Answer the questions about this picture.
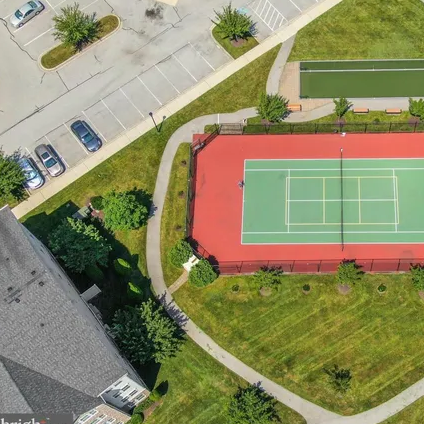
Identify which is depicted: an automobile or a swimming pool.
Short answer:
automobile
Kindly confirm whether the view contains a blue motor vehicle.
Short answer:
Yes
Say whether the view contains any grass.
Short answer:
Yes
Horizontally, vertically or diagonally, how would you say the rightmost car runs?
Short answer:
diagonally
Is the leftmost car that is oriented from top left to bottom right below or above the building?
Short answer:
above it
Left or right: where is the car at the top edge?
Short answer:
left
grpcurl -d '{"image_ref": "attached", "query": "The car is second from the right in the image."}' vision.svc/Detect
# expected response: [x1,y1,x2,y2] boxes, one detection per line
[31,142,64,177]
